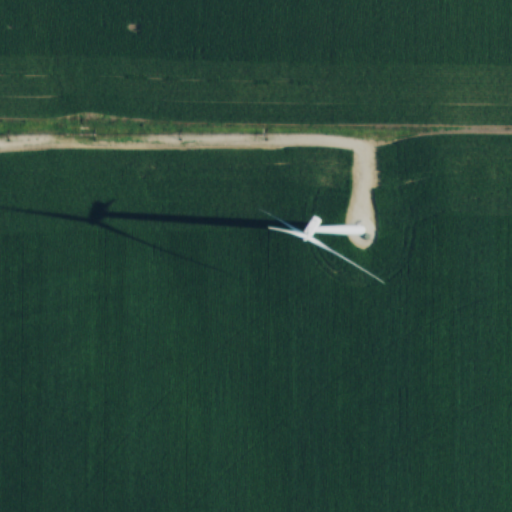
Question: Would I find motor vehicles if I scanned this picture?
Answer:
No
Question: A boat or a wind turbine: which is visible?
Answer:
wind turbine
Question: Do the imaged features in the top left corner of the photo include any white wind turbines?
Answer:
No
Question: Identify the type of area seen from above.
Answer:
farmland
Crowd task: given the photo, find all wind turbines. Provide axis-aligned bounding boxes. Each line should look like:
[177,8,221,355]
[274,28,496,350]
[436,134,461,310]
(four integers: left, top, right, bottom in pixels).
[257,210,386,284]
